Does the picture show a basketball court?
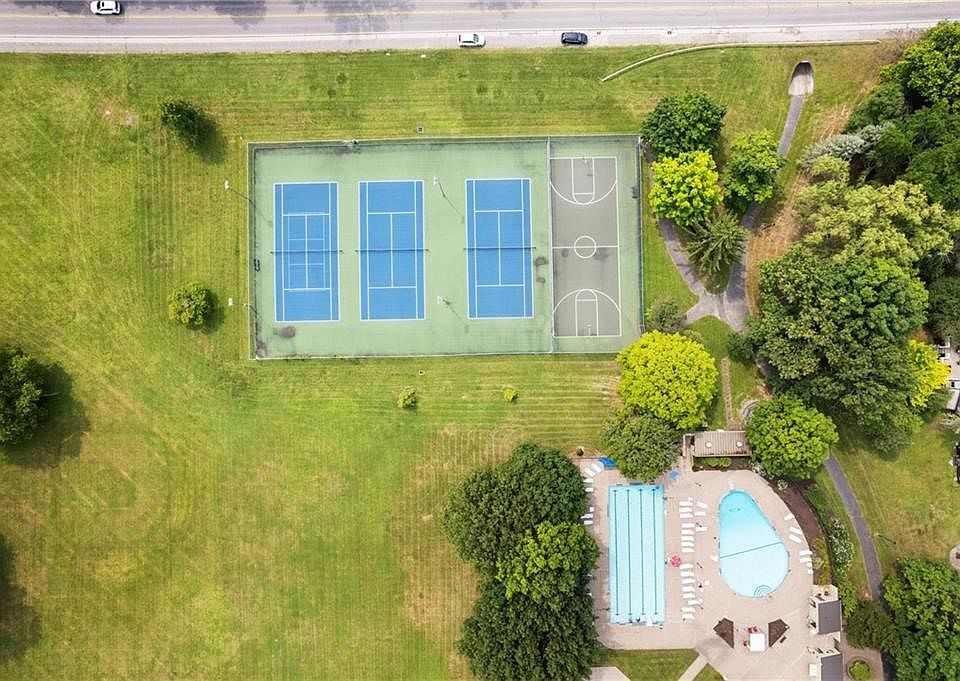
Yes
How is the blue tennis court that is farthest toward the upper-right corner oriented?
from top to bottom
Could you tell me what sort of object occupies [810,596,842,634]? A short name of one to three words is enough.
building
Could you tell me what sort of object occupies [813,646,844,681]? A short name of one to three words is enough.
building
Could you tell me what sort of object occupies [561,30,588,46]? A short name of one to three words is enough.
car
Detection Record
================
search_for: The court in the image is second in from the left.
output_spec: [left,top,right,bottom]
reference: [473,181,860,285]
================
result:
[358,180,426,321]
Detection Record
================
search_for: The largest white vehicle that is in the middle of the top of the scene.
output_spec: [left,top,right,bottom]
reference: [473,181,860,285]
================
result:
[458,32,485,47]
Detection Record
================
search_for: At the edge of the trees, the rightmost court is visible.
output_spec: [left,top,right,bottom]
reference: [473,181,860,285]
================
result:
[549,157,620,338]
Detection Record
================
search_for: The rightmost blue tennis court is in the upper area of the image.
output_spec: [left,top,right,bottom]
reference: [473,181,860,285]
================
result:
[465,177,533,319]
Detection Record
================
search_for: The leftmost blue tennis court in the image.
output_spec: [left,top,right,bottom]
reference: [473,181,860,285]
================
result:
[273,181,340,323]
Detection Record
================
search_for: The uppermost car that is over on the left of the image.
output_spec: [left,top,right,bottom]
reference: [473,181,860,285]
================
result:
[91,1,120,16]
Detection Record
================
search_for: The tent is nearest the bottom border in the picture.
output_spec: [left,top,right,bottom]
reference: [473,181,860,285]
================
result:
[742,627,765,652]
